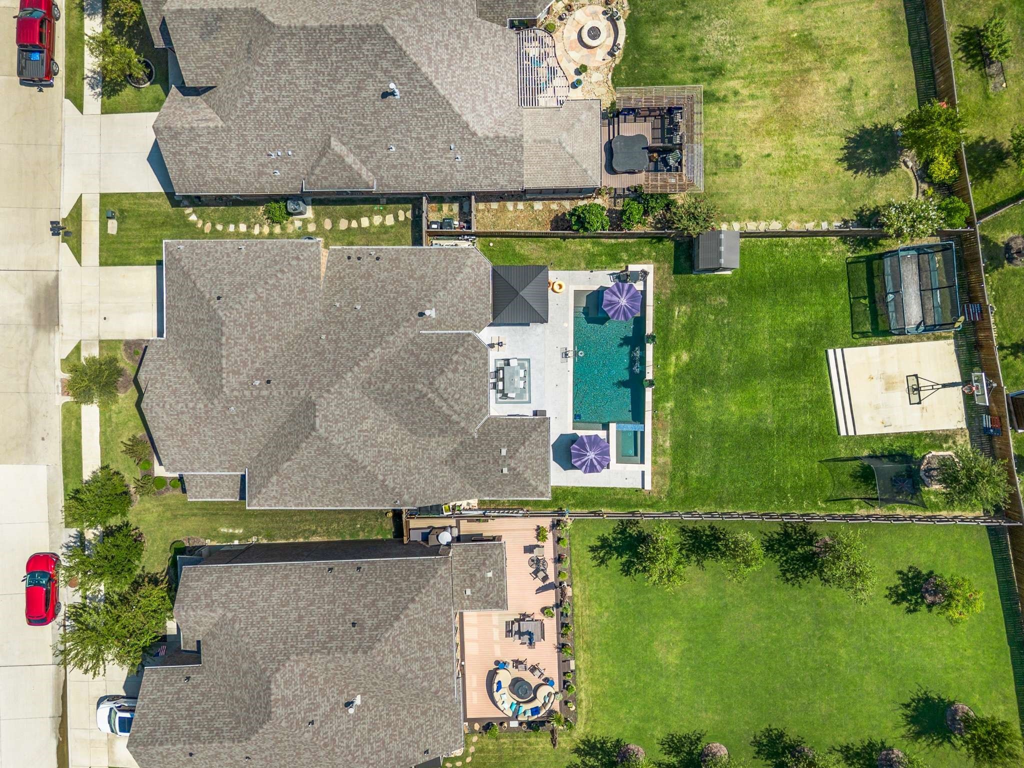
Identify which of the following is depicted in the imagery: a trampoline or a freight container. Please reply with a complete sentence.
Looking from above, you can make out a trampoline.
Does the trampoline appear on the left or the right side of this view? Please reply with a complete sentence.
The trampoline appears in the right half of the scene.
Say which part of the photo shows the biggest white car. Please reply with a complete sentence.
Look in the bottom left portion of the view to spot the biggest white car.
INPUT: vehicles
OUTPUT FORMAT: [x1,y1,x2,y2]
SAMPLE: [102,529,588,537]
[12,0,60,89]
[97,696,138,737]
[21,552,63,625]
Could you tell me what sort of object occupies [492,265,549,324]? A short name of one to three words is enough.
gazebo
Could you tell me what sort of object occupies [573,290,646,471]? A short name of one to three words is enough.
swimming pool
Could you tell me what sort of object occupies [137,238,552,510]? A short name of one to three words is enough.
house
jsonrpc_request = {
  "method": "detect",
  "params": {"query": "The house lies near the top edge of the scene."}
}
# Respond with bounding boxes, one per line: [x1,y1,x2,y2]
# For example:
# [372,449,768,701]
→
[142,0,603,205]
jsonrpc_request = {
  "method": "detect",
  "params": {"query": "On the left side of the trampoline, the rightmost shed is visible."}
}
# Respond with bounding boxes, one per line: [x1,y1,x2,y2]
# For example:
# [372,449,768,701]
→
[696,230,743,278]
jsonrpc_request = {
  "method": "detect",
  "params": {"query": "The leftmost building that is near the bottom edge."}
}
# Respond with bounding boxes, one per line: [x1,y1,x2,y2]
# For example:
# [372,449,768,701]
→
[127,537,508,768]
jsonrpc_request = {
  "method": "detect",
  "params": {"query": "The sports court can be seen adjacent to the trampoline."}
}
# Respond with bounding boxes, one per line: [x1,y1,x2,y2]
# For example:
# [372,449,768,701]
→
[826,340,966,435]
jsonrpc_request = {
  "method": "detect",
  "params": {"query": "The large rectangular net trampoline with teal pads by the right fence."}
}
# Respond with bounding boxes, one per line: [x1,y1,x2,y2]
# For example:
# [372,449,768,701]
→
[878,241,963,335]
